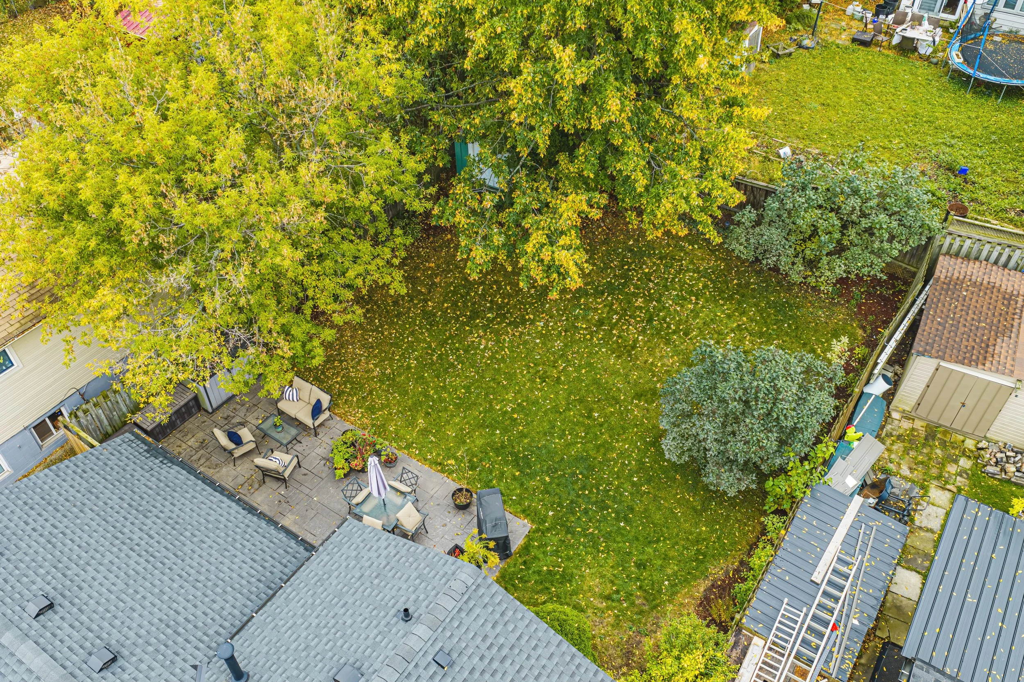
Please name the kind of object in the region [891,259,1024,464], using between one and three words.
shed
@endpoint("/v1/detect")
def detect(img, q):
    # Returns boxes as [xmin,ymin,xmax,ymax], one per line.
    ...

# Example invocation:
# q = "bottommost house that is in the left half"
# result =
[0,425,622,682]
